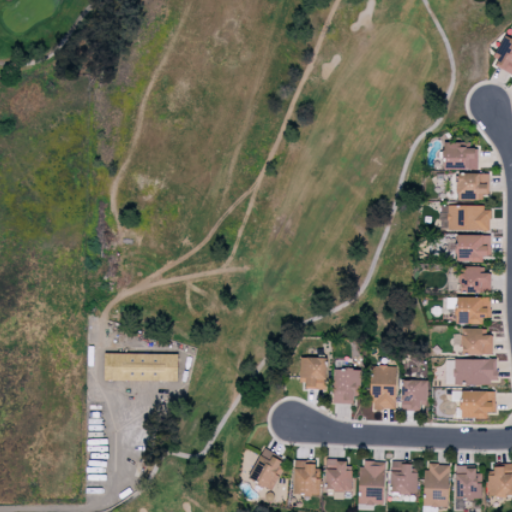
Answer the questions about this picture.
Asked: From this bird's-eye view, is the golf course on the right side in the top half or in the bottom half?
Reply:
top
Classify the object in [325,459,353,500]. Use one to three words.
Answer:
house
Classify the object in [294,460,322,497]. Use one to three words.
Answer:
house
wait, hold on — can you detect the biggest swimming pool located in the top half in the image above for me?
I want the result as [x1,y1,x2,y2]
[428,140,442,167]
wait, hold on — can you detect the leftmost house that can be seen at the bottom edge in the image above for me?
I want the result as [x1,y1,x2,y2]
[249,448,284,492]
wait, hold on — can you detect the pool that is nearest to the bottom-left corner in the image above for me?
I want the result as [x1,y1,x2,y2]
[241,483,259,501]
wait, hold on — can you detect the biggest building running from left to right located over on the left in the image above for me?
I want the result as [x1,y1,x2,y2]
[104,354,178,382]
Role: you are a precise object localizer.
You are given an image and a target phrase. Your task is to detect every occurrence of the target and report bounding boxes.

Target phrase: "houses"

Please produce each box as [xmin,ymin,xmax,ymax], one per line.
[453,391,498,419]
[325,459,353,500]
[458,172,490,200]
[423,464,451,512]
[446,358,500,386]
[249,448,284,492]
[300,354,328,392]
[441,206,492,232]
[456,465,483,510]
[402,380,429,410]
[456,234,492,262]
[333,368,362,404]
[494,36,512,74]
[446,297,492,324]
[444,142,479,170]
[488,464,512,497]
[391,461,419,502]
[358,460,386,511]
[460,266,492,294]
[294,460,322,497]
[462,329,494,354]
[372,366,398,410]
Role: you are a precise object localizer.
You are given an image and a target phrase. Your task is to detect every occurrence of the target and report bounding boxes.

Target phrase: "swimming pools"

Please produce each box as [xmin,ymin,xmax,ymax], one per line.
[241,483,259,501]
[428,140,442,167]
